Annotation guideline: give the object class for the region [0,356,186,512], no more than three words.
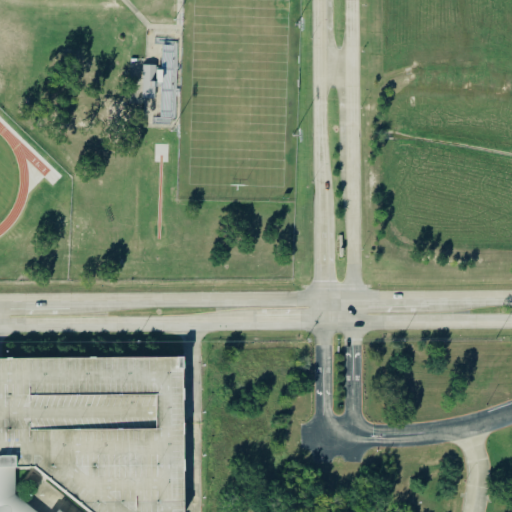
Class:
building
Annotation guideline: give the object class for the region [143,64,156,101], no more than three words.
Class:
building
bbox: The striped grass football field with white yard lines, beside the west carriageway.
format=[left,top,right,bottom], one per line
[184,0,294,192]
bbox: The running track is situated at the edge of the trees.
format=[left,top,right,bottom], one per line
[0,118,67,234]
